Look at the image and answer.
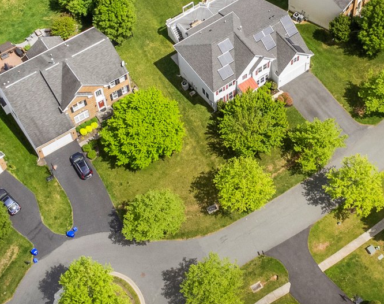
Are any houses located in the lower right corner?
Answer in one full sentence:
No, no house appears in the lower right corner.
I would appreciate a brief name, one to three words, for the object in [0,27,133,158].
house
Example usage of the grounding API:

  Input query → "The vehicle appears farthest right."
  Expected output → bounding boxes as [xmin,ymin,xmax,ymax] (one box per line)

[71,150,95,183]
